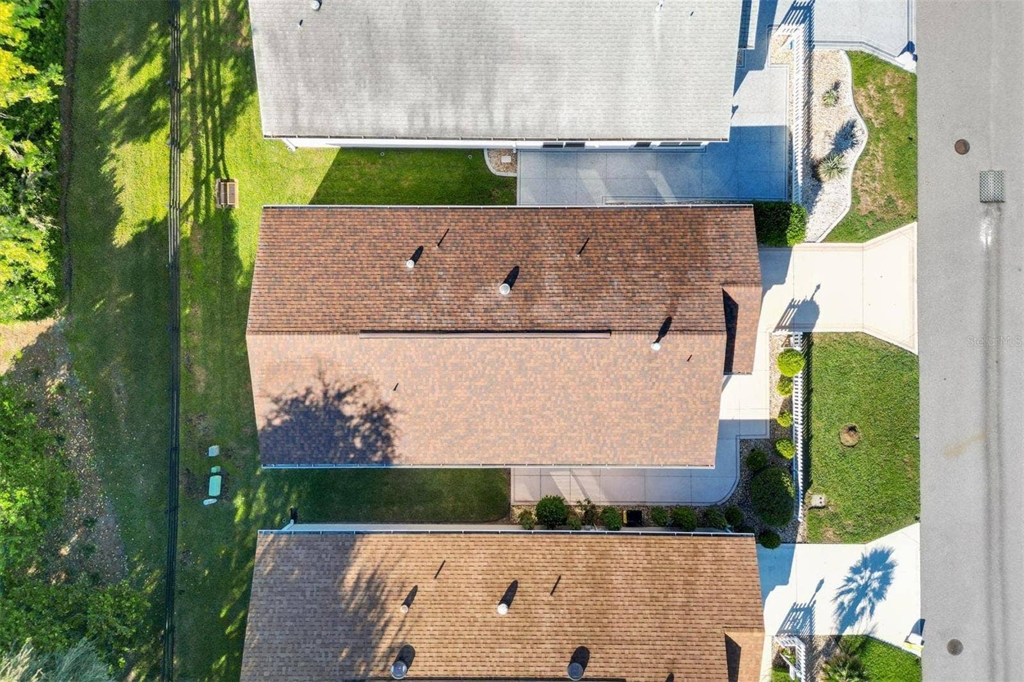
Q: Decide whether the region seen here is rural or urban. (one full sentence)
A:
The area shown here is urban.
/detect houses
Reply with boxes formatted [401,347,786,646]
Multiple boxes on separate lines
[244,504,768,682]
[247,202,761,470]
[251,0,763,156]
